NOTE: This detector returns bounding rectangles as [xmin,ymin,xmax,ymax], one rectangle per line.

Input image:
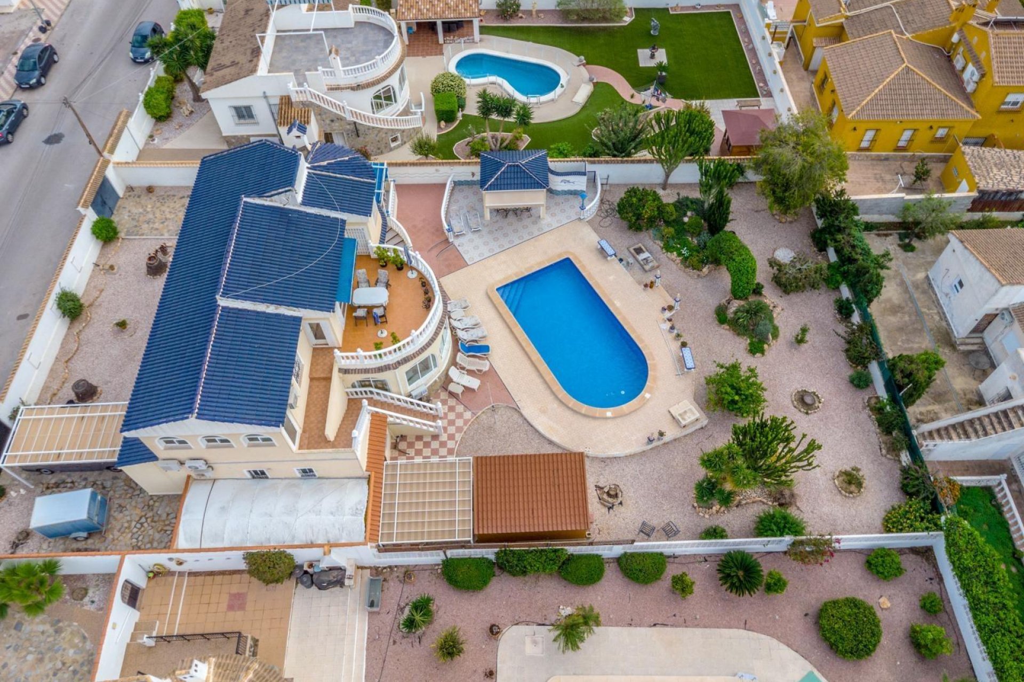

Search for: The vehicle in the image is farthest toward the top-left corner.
[17,45,59,87]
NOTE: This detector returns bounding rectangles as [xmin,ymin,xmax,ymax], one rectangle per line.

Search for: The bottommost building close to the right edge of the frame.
[926,229,1024,367]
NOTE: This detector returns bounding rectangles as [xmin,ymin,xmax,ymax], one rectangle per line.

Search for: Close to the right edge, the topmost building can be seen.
[763,0,1024,164]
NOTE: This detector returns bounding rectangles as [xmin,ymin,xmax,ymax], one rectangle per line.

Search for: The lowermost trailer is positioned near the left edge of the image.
[26,489,116,540]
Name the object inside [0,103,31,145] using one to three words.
car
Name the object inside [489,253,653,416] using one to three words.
swimming pool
